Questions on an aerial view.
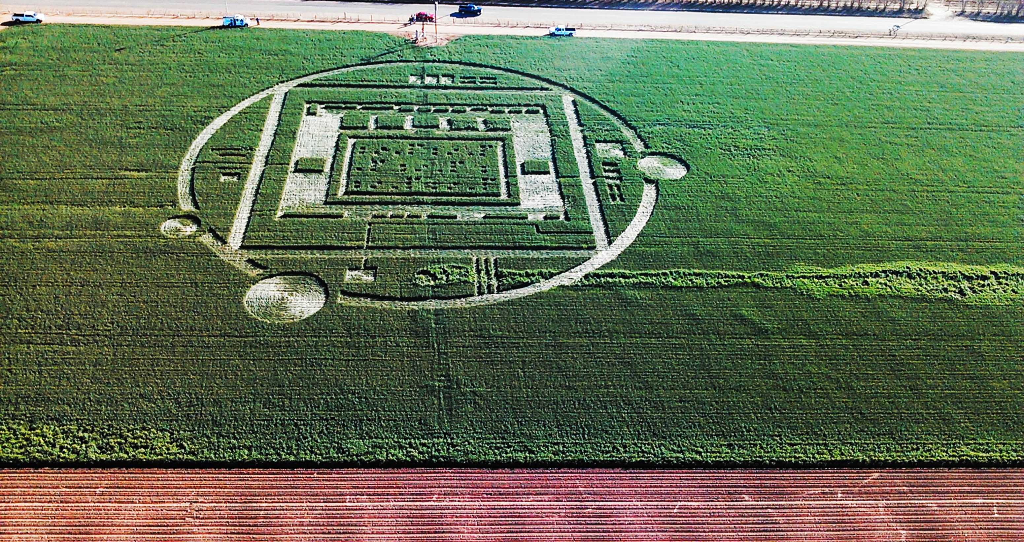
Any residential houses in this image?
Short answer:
No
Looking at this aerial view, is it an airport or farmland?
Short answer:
farmland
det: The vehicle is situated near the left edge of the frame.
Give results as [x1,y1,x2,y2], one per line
[12,12,43,24]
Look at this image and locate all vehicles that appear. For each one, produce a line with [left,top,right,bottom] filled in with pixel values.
[12,12,43,24]
[458,3,483,14]
[550,25,576,36]
[222,12,252,26]
[415,11,435,20]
